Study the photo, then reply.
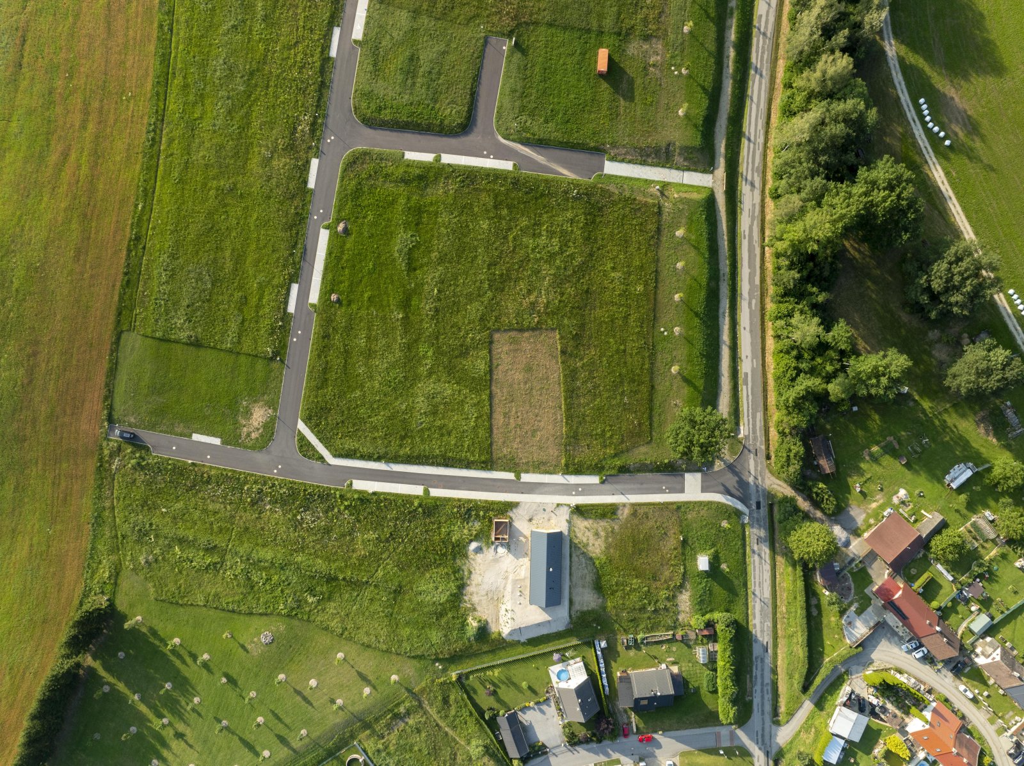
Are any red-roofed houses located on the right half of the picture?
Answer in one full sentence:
Yes, the scene does show a red-roofed house on the right half of the picture.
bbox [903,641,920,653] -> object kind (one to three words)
vehicle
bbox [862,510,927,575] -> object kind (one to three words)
barn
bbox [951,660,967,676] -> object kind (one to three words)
car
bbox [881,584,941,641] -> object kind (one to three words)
house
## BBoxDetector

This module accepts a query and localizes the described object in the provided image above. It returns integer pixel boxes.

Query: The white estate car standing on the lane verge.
[959,685,976,701]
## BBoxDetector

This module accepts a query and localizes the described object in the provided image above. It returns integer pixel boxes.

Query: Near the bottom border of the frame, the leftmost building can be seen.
[497,708,530,759]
